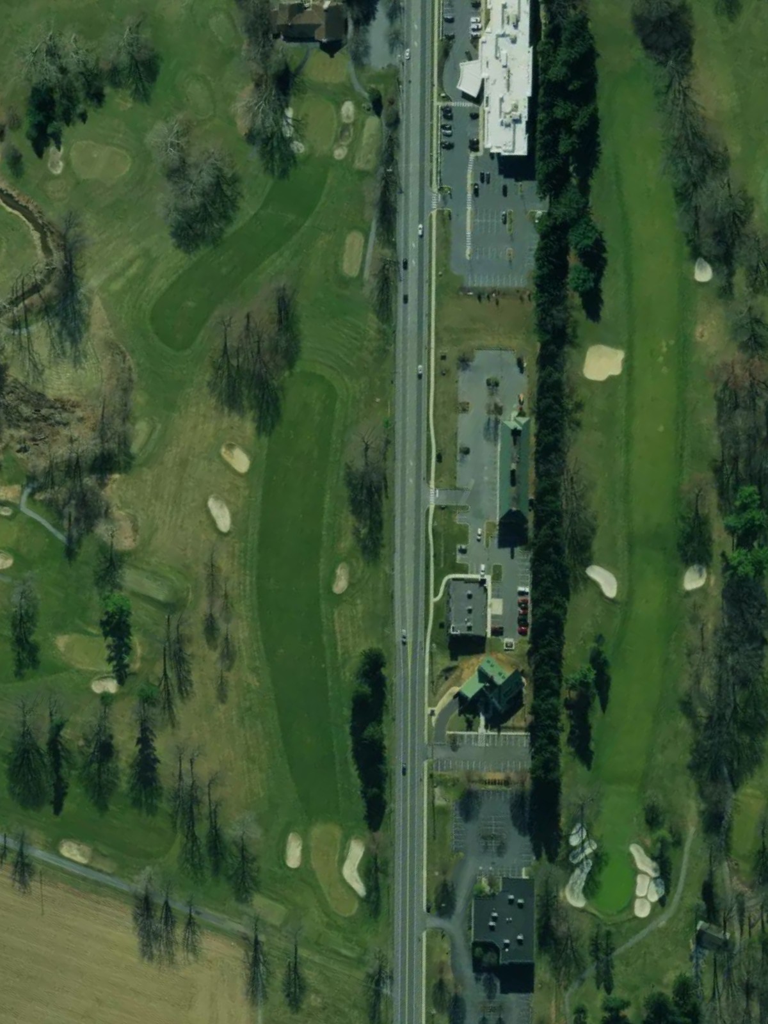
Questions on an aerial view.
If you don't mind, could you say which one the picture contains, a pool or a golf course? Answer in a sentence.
The one in the frame is a golf course.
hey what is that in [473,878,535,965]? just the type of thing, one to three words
building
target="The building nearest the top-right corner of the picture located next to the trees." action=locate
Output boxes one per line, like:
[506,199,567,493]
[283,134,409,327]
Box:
[457,0,534,155]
